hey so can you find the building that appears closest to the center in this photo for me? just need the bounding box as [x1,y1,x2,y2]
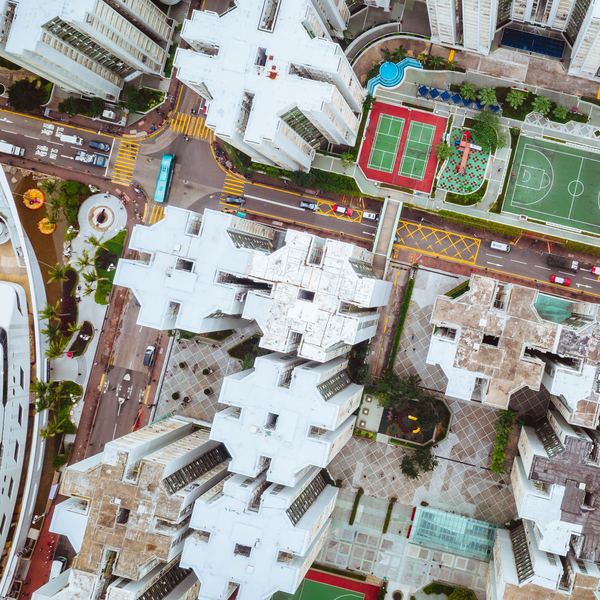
[239,231,394,365]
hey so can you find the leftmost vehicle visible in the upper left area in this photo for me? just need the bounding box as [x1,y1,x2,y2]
[0,141,28,158]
